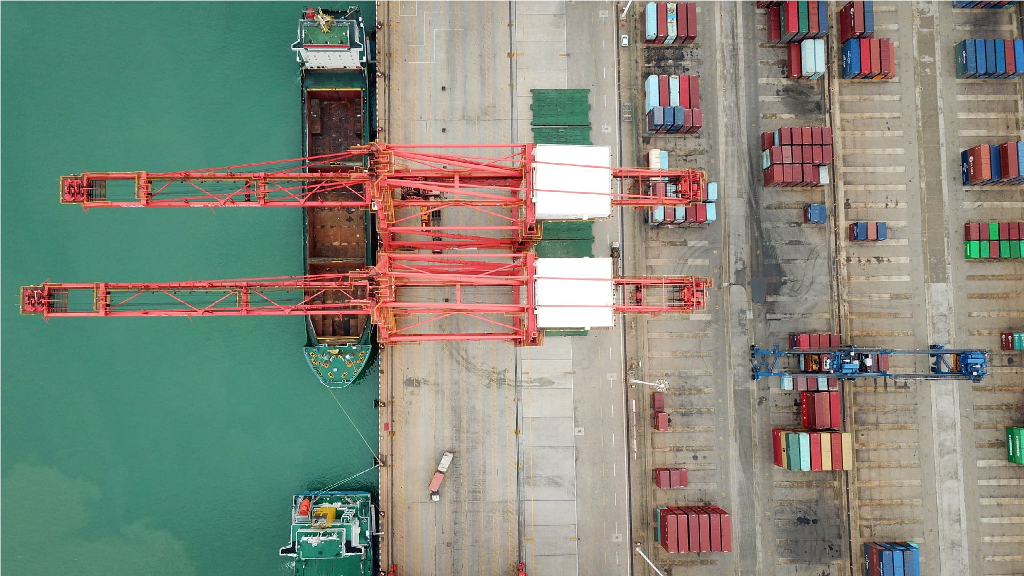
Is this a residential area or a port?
port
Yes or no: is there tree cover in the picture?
No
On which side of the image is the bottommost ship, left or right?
left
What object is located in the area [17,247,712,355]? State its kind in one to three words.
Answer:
container crane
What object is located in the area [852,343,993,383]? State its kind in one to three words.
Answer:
container crane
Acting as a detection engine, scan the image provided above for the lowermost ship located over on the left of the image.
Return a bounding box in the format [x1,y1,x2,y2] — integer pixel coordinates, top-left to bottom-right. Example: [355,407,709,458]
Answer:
[280,481,384,576]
